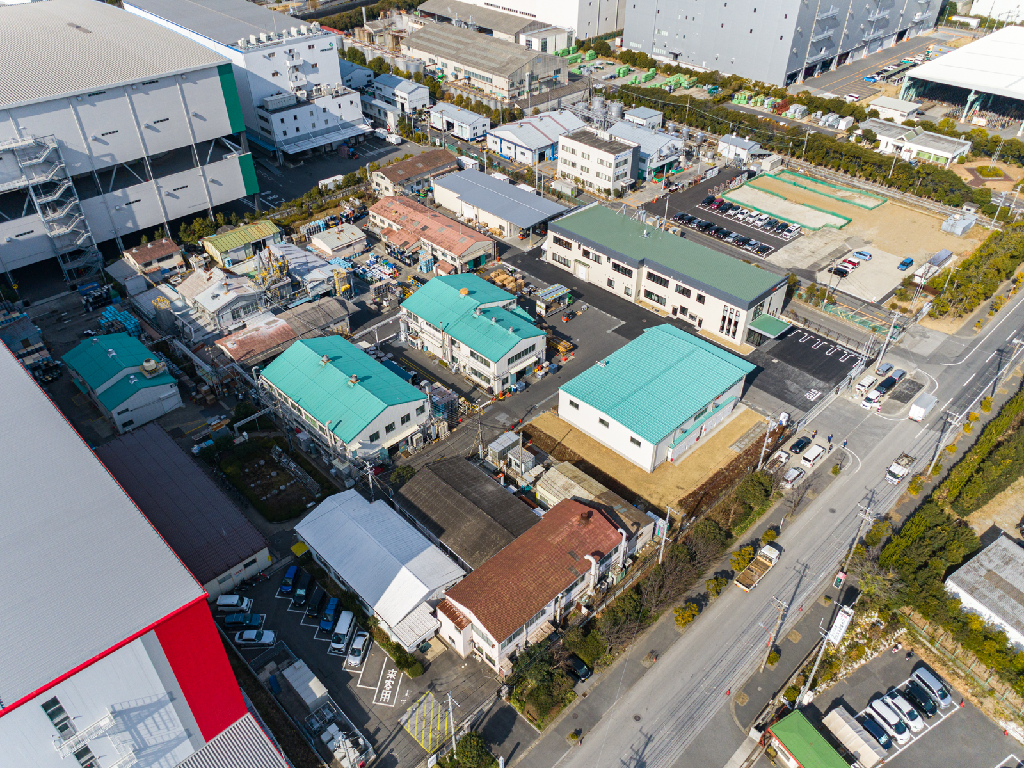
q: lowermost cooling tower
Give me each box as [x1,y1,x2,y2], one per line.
[139,354,157,371]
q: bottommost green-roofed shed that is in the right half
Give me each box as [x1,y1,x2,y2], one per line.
[763,706,857,768]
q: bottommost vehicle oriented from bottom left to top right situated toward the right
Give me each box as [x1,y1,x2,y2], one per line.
[728,541,784,596]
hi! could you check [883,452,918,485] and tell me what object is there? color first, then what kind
white truck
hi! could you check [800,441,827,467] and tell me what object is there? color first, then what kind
white car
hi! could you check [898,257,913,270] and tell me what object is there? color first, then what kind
blue vehicle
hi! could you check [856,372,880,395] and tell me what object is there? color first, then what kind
white car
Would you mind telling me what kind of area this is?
industrial area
